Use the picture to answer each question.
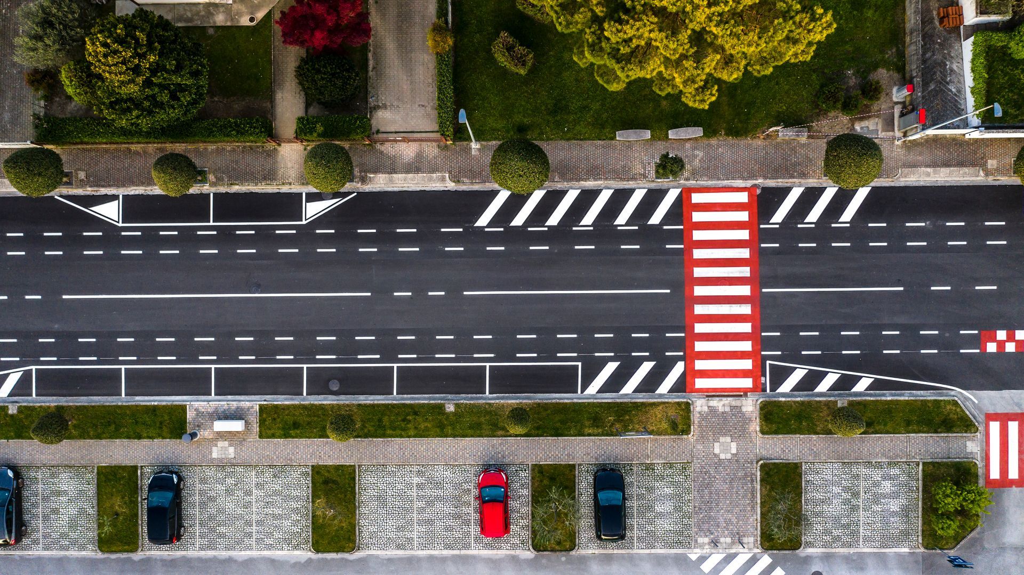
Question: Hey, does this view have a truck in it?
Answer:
No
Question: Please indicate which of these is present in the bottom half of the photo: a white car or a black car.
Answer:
black car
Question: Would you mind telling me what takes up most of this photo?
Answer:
paved ground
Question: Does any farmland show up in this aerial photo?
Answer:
No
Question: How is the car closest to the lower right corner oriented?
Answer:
up and down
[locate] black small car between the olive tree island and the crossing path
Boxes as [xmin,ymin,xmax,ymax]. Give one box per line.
[591,465,631,544]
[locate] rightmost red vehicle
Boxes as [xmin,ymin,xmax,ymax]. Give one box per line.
[474,465,514,541]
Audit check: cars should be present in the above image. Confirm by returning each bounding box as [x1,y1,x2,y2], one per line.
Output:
[591,465,631,544]
[0,465,29,550]
[141,469,185,546]
[474,465,514,541]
